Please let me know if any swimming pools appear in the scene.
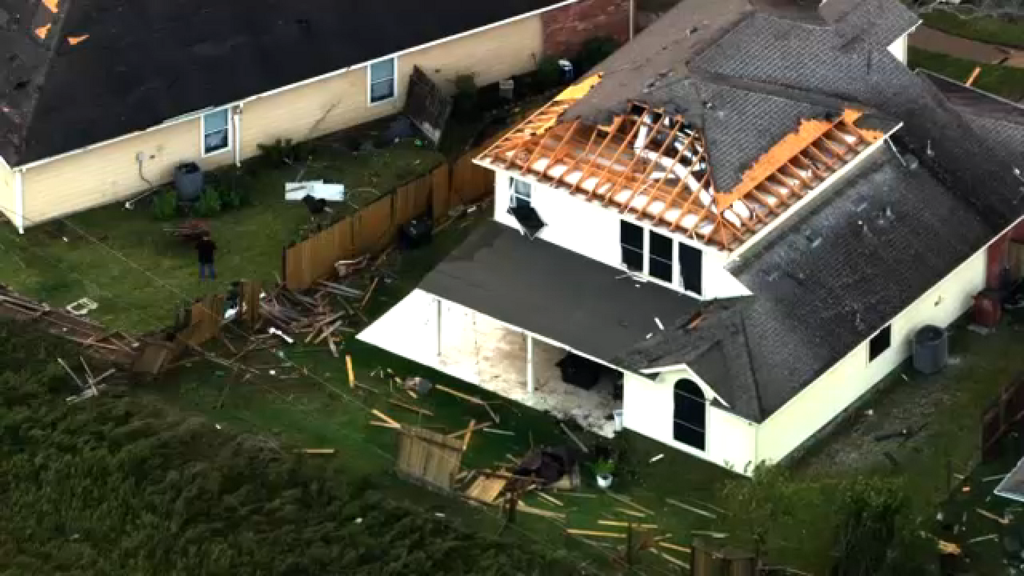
No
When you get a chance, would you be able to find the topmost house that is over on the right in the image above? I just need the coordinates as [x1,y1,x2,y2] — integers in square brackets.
[416,0,1024,479]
